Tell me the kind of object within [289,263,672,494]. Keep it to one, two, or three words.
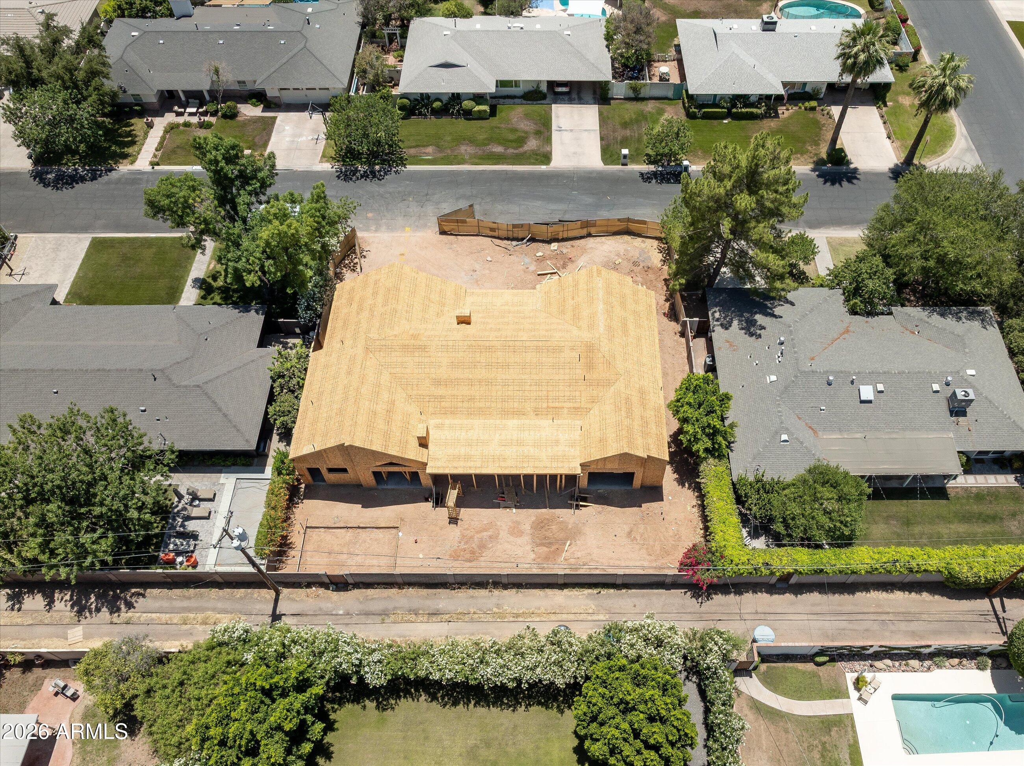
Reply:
house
